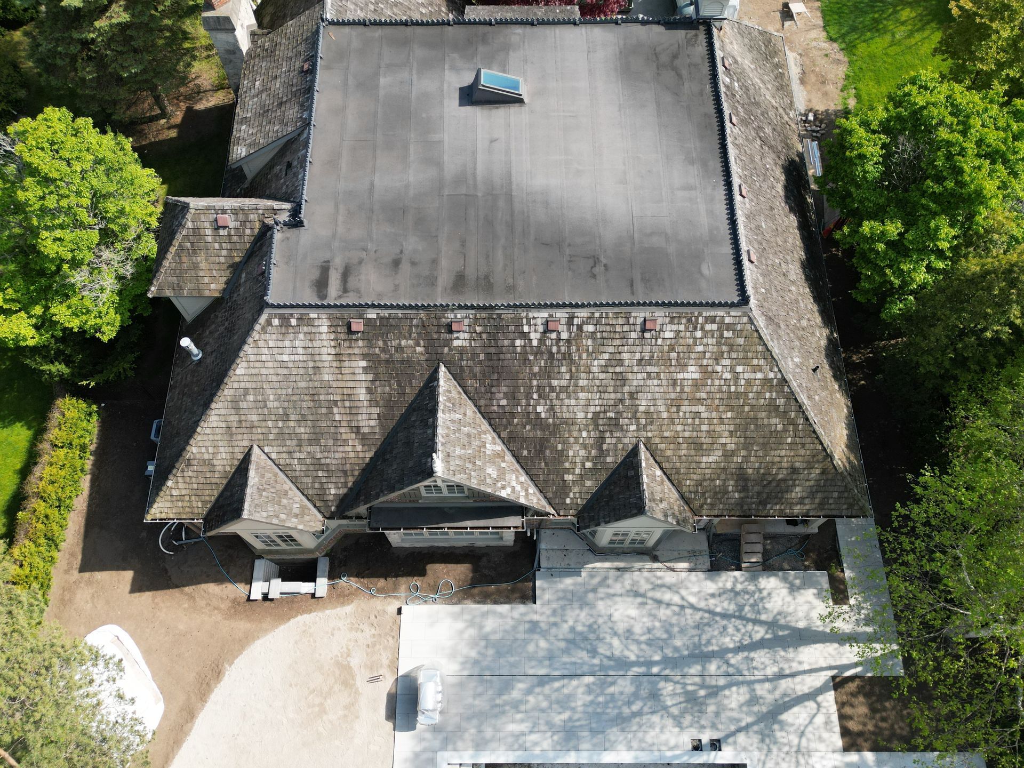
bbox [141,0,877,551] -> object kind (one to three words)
house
